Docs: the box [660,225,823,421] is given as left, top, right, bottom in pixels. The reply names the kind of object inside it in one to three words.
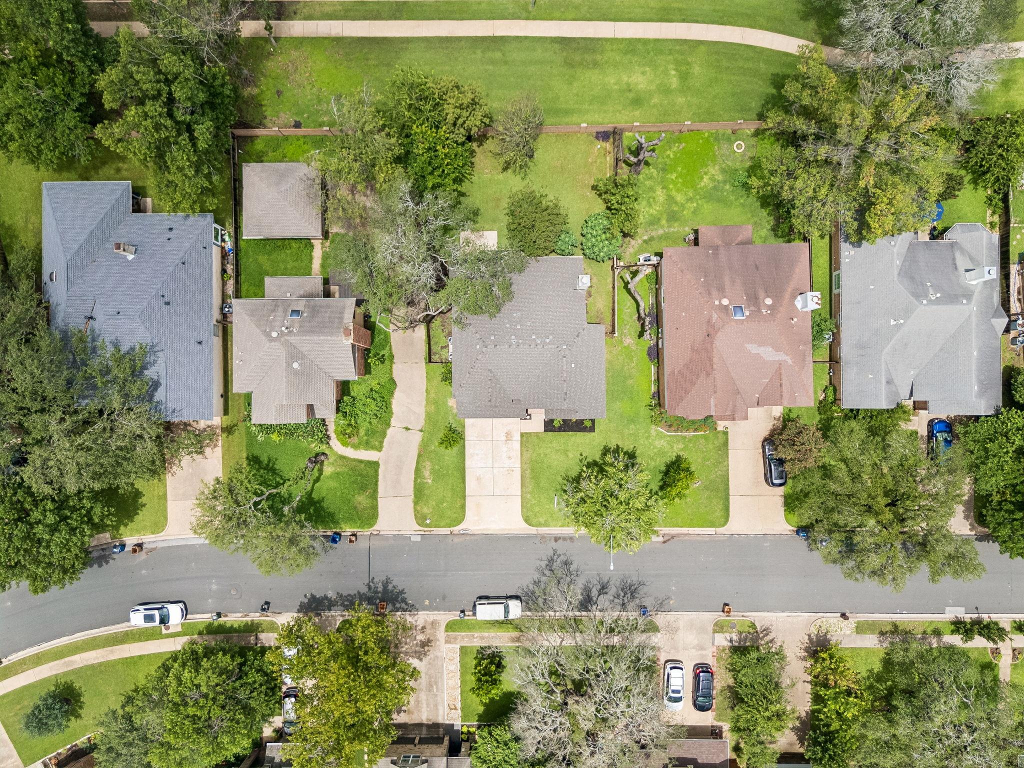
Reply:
house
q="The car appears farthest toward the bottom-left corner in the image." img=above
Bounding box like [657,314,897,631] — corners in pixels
[135,600,187,625]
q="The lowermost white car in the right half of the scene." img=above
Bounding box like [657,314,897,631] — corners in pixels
[663,659,686,710]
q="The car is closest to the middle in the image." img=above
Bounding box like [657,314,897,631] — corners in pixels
[472,595,520,619]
